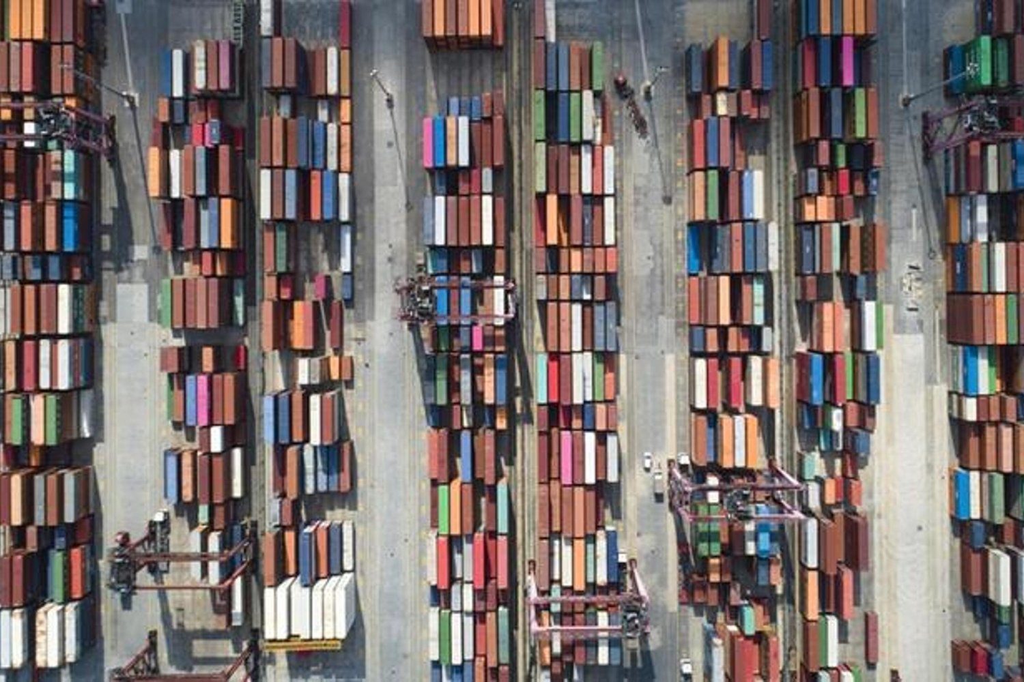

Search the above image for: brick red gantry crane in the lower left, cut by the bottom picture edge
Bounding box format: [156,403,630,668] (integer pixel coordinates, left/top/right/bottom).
[102,625,257,682]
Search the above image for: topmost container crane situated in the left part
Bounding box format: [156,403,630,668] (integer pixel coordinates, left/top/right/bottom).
[0,99,115,166]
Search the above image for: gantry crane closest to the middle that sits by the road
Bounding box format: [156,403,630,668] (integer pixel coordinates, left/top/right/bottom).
[389,269,518,328]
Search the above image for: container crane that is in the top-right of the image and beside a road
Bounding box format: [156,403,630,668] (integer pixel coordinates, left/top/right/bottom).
[923,96,1024,164]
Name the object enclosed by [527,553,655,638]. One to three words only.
container crane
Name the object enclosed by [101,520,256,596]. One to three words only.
container crane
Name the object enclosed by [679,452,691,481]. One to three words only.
vehicle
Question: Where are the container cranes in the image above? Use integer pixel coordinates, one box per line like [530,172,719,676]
[389,269,518,328]
[102,625,257,682]
[101,520,256,596]
[923,96,1024,164]
[0,99,115,166]
[665,453,810,526]
[527,553,655,638]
